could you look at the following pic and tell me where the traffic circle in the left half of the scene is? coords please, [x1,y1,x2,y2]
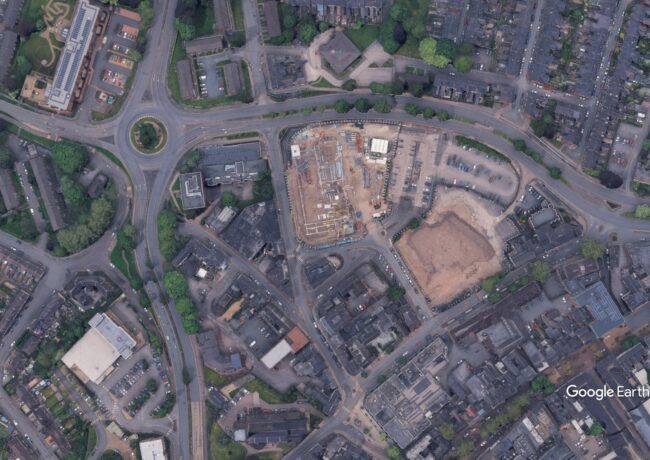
[119,105,180,166]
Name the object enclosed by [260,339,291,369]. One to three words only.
shed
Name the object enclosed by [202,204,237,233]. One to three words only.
building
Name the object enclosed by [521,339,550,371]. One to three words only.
building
